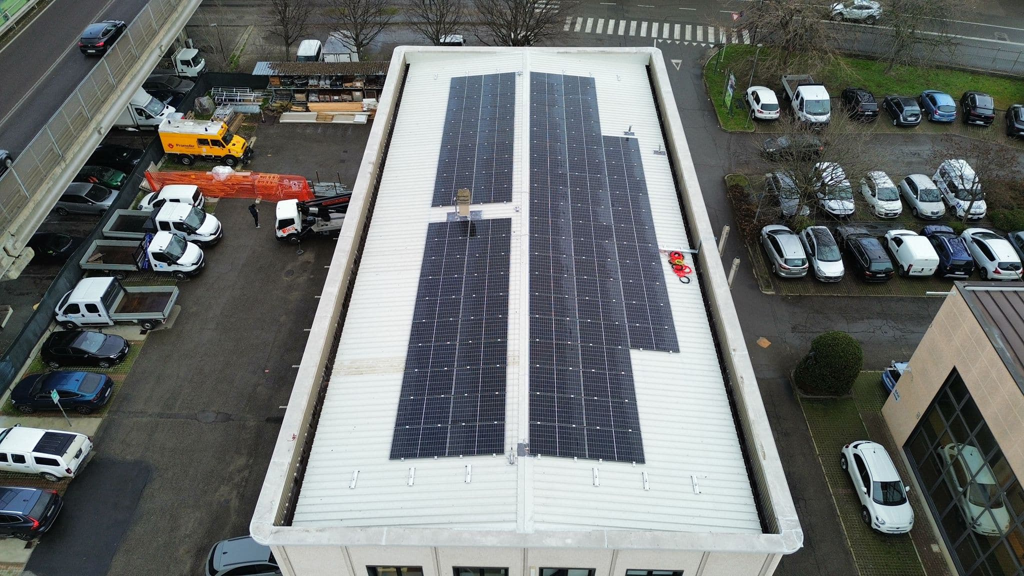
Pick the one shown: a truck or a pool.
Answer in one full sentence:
There is a truck in the scene.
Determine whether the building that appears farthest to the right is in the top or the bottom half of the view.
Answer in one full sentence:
You can find the building that appears farthest to the right in the bottom half.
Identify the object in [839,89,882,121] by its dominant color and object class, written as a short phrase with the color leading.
black car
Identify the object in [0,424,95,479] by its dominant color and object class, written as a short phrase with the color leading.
white truck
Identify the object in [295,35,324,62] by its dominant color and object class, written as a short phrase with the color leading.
white vehicle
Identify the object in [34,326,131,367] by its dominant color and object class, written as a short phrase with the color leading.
black car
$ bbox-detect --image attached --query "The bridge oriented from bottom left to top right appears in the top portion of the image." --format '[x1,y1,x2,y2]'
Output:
[0,0,226,328]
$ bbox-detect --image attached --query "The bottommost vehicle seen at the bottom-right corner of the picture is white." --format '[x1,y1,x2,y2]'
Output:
[841,445,913,541]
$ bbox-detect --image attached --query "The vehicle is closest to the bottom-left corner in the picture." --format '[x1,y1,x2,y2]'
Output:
[0,485,62,541]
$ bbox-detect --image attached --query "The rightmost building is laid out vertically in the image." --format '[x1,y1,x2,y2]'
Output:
[885,283,1024,576]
